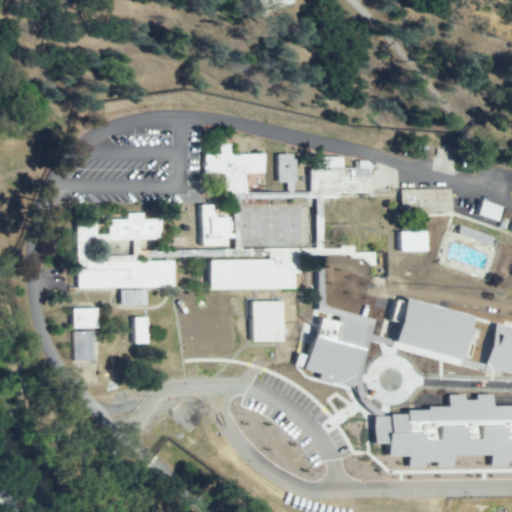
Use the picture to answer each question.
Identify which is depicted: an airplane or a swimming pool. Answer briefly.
swimming pool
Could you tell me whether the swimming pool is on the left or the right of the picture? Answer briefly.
right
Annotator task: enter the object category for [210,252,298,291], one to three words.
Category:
building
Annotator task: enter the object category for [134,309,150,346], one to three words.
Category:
building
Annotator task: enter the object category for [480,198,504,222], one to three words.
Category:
shed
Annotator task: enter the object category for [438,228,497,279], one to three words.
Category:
swimming pool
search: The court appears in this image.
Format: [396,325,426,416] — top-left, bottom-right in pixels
[244,205,301,247]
